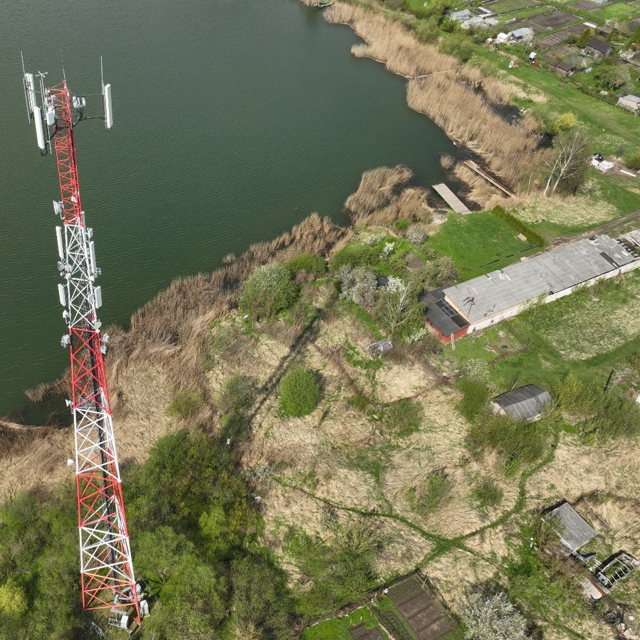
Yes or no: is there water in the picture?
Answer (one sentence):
Yes, water shows up in the scene.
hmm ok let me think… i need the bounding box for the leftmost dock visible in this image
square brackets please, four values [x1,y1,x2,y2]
[432,184,470,215]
